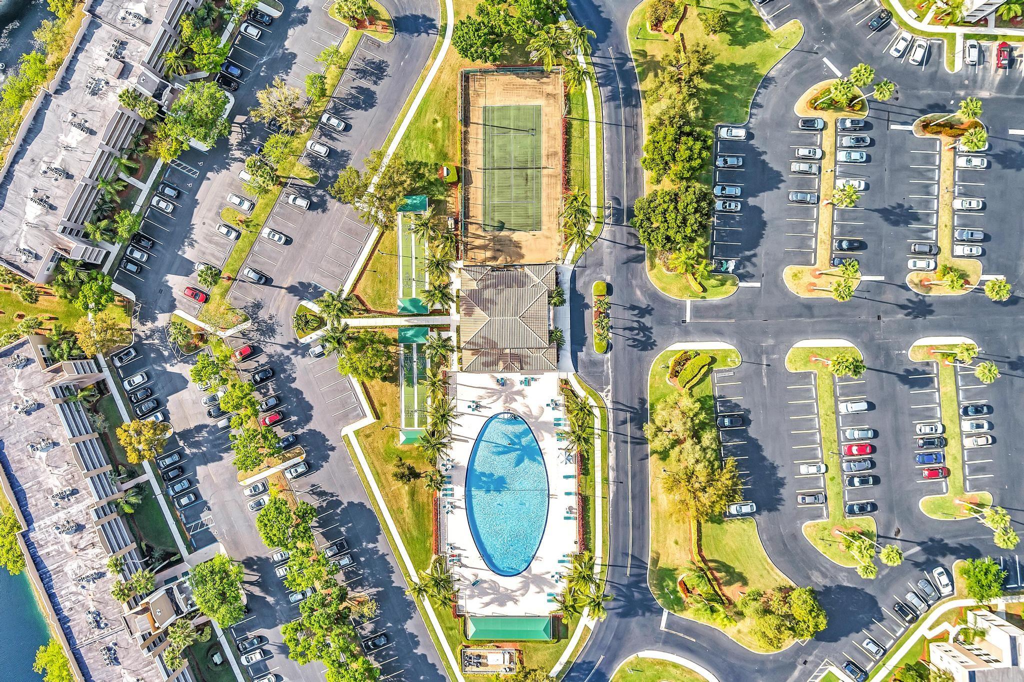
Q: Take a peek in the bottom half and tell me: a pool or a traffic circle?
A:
pool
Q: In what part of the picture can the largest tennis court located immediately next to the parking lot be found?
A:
top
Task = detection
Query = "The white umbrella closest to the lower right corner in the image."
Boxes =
[558,450,573,465]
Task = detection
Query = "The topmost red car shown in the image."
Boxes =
[996,42,1011,69]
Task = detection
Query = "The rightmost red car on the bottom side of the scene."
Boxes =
[921,467,949,479]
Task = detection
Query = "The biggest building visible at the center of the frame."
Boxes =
[460,265,557,375]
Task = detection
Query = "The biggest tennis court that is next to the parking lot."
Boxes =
[463,70,563,264]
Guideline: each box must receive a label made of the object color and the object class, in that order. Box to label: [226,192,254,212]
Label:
white car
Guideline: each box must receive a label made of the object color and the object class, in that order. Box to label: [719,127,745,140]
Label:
white vehicle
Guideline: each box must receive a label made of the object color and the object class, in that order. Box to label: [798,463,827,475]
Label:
white vehicle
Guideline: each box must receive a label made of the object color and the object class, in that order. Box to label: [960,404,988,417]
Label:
blue vehicle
